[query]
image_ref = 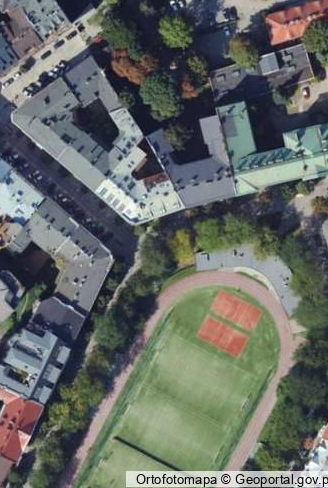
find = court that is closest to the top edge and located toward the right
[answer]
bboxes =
[211,290,262,331]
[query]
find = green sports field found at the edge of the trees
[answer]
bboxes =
[66,278,285,488]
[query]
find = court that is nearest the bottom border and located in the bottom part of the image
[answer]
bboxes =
[196,316,249,359]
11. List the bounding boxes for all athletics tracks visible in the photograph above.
[53,270,296,488]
